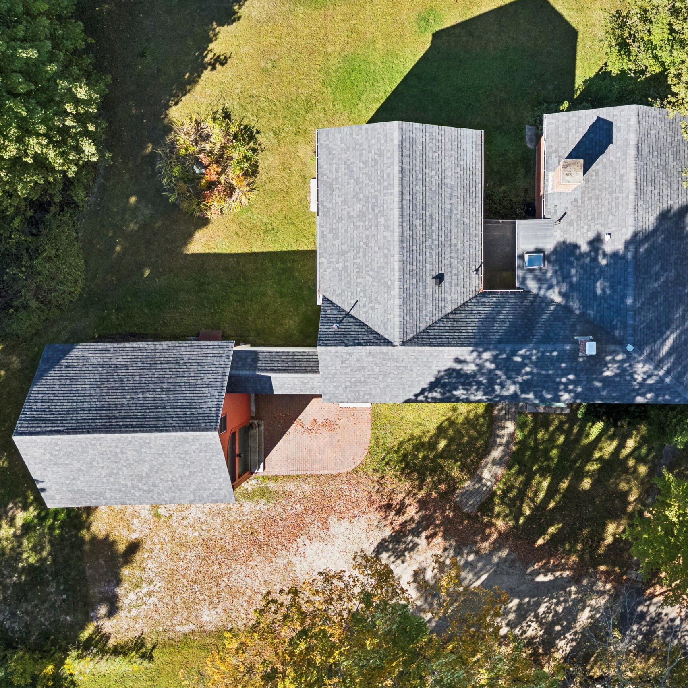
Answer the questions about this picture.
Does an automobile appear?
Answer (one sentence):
No, no automobile can be seen from above.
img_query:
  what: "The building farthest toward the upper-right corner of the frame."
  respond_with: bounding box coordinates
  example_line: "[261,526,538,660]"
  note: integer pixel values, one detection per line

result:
[313,105,688,402]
